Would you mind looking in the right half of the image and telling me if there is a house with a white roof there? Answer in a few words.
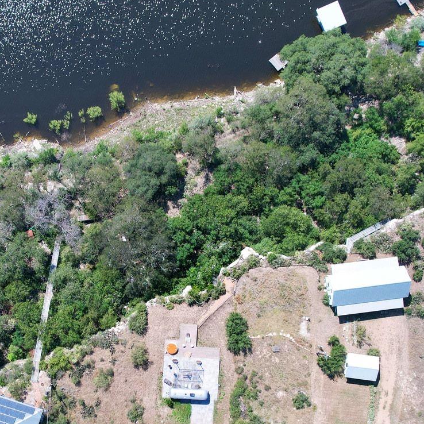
Yes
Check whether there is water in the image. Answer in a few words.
Yes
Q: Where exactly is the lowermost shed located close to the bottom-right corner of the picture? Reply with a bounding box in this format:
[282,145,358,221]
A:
[344,353,379,380]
